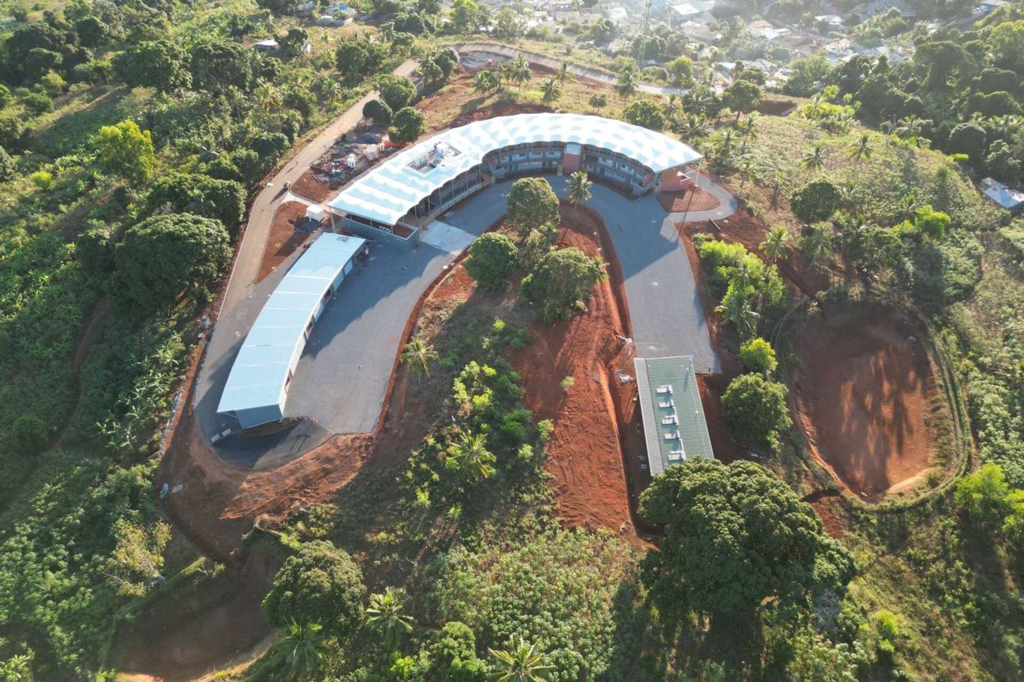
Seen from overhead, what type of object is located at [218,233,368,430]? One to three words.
building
